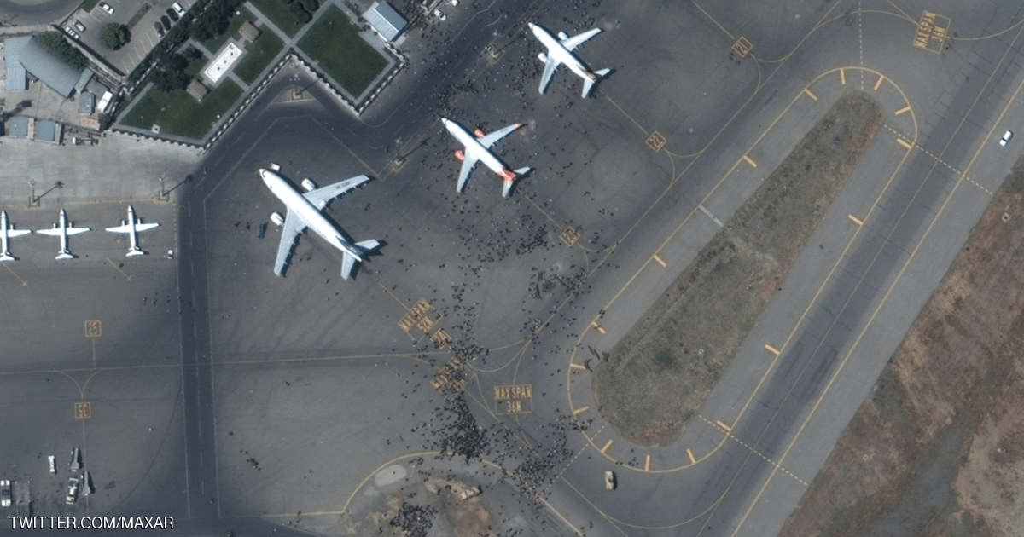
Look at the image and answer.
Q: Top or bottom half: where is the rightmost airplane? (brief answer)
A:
top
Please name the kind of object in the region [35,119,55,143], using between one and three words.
shed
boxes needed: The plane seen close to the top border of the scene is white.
[529,22,611,97]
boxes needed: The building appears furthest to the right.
[366,1,408,45]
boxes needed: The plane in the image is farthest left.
[0,209,30,257]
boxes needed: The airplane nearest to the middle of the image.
[442,118,531,196]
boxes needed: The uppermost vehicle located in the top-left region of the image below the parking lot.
[96,90,114,113]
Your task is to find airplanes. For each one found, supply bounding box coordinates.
[0,209,30,257]
[105,205,158,254]
[36,207,89,256]
[442,118,531,196]
[529,22,611,97]
[260,169,381,278]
